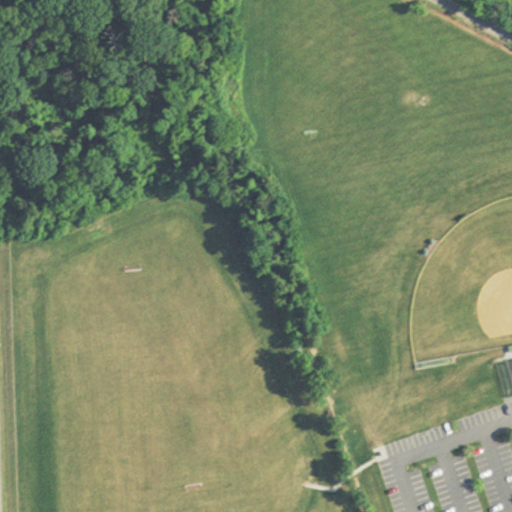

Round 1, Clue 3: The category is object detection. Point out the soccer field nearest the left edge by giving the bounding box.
[52,197,322,512]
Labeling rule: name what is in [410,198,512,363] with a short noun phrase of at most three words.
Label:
baseball field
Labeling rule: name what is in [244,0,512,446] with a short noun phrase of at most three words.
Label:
sports field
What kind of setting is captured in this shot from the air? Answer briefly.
sports ground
